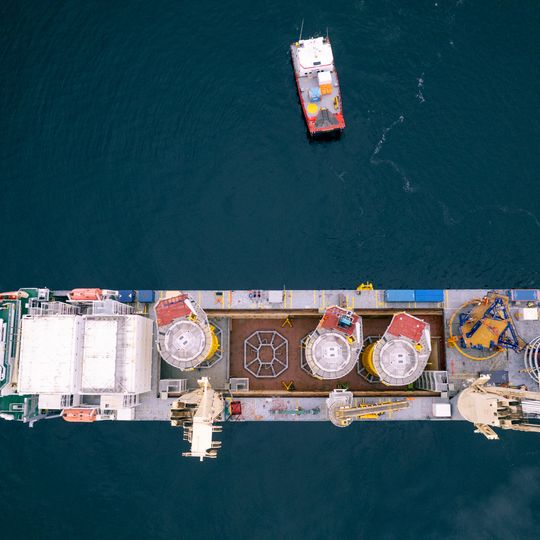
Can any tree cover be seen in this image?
No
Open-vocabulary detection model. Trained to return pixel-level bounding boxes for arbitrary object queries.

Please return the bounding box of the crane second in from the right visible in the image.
[327,389,411,427]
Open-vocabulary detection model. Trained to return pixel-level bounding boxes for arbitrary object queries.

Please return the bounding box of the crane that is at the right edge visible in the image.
[456,374,540,440]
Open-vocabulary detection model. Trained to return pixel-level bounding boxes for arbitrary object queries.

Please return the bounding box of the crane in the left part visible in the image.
[170,376,224,462]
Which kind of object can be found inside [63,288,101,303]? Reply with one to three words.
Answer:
boat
